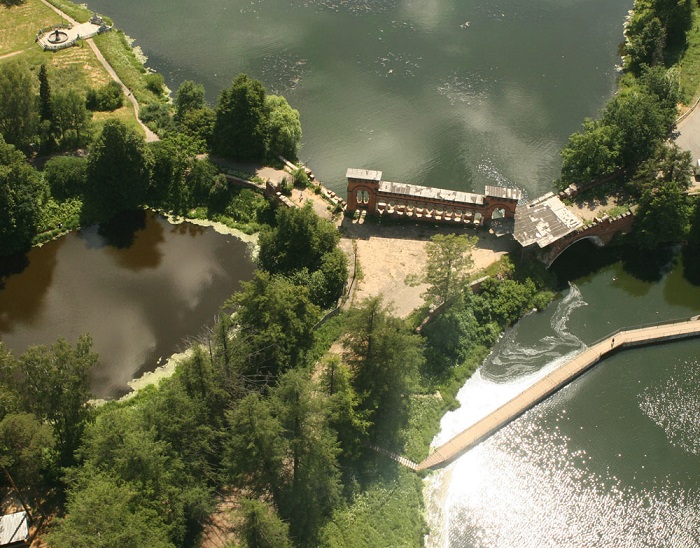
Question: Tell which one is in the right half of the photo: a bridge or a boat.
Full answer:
You can see a bridge in the right half of the photo.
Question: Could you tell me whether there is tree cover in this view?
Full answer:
Yes, tree cover shows up in the scene.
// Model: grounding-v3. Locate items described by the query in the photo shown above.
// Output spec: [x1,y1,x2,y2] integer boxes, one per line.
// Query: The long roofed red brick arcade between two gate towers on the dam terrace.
[345,167,523,230]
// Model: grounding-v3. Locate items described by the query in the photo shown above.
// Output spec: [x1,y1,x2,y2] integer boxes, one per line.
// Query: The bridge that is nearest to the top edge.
[504,176,644,268]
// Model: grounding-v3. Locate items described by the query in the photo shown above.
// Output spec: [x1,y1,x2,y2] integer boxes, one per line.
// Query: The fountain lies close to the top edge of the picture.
[46,26,68,44]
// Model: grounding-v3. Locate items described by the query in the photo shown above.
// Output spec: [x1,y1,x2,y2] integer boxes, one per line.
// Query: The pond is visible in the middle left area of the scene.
[0,210,249,409]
